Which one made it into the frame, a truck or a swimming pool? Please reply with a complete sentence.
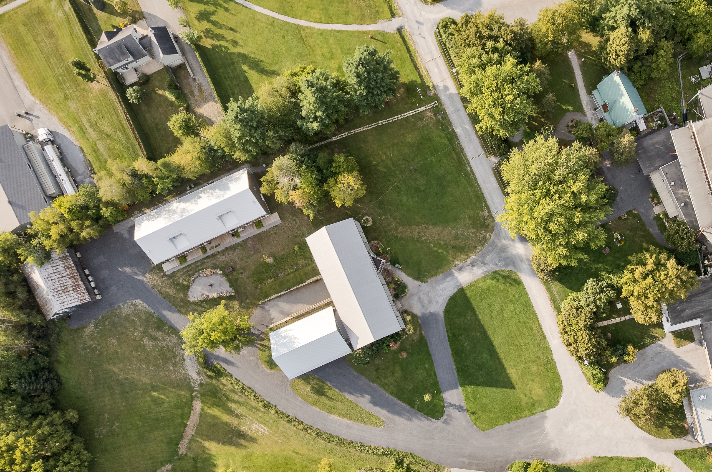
There is a truck in the scene.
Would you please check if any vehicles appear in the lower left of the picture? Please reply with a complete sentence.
No, no vehicle appears in the lower left of the picture.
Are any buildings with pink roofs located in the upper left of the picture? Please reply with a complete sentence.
No, I see no building with a pink roof in the upper left of the picture.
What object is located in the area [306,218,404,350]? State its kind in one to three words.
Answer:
barn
